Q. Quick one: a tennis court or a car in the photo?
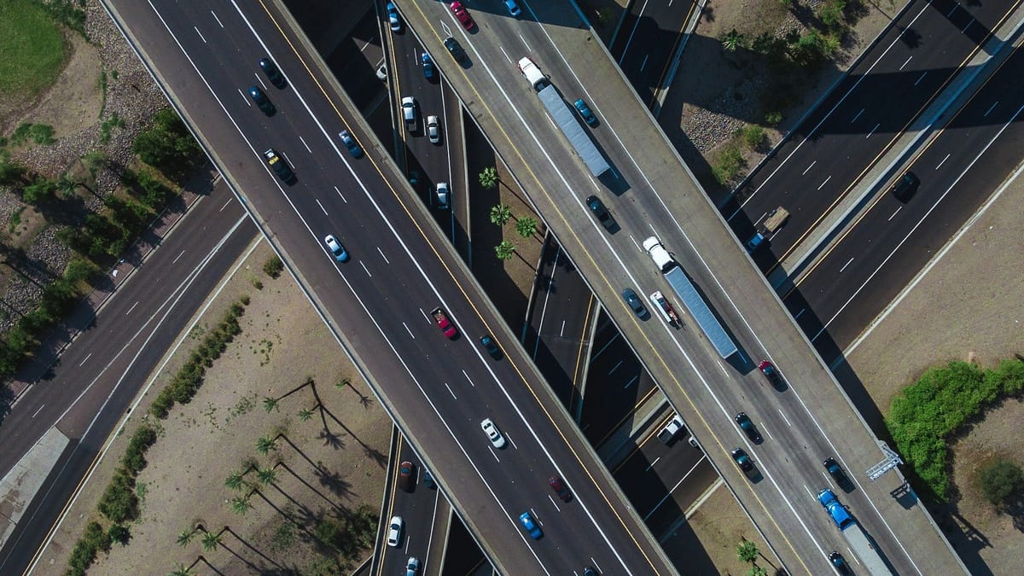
car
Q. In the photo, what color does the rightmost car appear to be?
black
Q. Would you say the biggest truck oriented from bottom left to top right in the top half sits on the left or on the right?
right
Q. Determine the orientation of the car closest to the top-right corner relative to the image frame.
diagonally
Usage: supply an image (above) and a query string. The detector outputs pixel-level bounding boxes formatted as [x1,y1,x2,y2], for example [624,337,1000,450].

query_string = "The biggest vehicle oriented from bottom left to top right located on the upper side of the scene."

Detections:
[747,205,790,250]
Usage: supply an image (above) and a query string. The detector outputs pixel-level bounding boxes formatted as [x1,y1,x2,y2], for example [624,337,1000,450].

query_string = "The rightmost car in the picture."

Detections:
[892,172,919,200]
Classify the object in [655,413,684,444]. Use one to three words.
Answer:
truck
